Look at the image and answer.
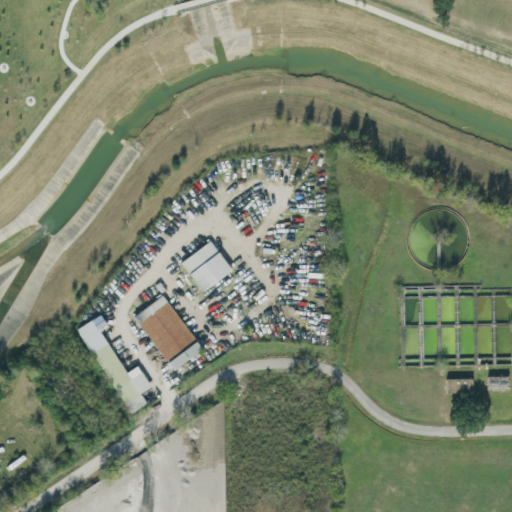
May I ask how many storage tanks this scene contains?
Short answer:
1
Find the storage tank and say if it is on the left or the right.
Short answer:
right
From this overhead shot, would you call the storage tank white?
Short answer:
No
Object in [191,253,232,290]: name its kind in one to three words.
building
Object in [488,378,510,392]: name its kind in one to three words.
shed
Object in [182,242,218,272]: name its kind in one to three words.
building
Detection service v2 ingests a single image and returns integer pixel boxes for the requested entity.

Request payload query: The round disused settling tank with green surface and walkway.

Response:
[408,208,470,270]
